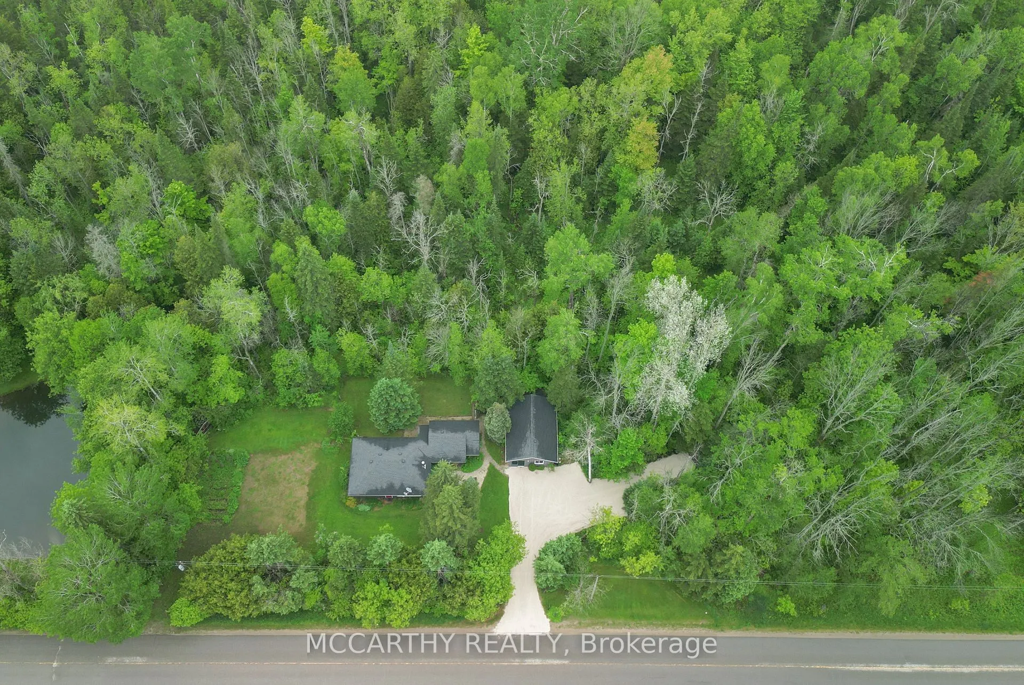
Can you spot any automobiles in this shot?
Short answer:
No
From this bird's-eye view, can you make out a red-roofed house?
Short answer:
No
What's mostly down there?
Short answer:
trees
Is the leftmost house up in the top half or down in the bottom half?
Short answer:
bottom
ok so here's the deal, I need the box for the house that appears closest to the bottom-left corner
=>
[344,420,480,500]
